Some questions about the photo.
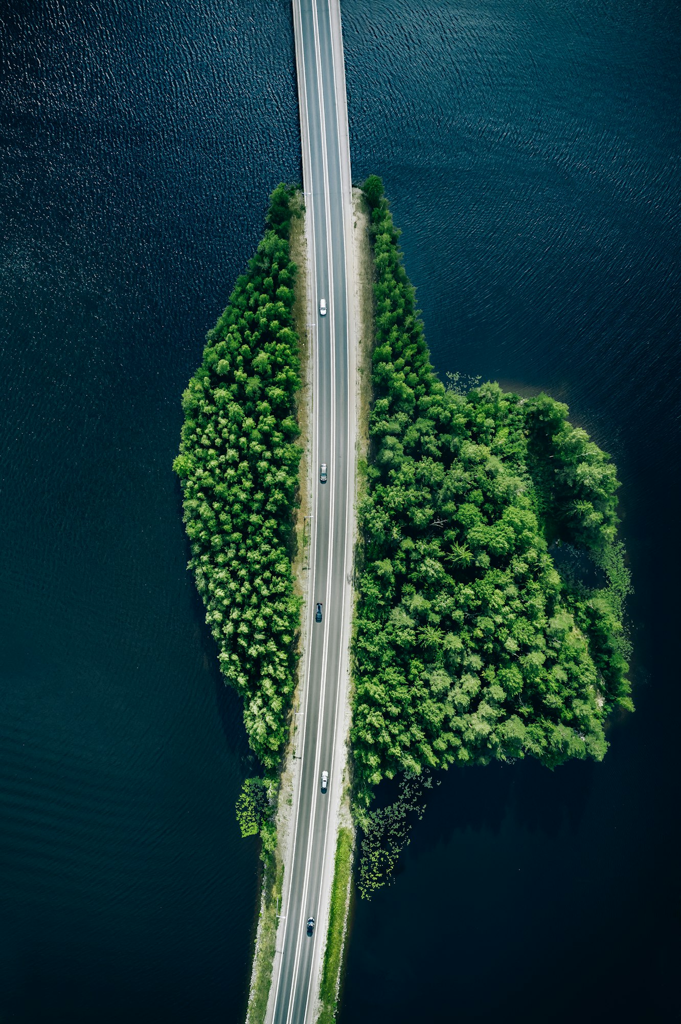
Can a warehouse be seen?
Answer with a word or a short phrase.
No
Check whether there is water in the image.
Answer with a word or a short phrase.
Yes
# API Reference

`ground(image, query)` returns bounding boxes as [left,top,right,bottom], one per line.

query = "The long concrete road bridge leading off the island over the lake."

[292,0,354,223]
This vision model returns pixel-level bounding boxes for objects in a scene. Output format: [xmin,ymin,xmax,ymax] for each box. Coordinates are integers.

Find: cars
[307,916,314,933]
[319,465,327,481]
[321,770,329,787]
[319,299,327,315]
[315,603,323,620]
